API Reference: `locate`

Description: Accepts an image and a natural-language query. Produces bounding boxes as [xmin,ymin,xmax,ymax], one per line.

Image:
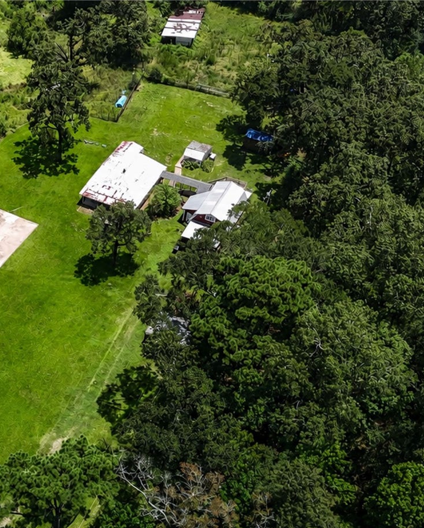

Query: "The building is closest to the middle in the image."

[180,180,251,249]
